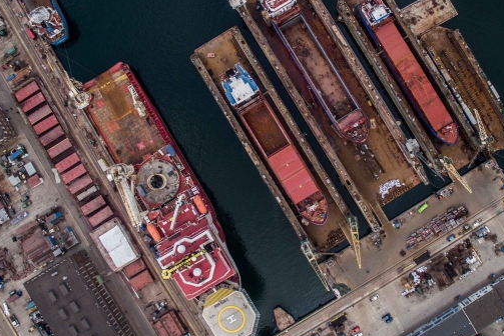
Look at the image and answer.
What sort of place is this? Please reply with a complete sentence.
What you see here is a port.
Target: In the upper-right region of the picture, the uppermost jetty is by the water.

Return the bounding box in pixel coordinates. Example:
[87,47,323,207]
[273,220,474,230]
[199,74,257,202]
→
[401,0,458,39]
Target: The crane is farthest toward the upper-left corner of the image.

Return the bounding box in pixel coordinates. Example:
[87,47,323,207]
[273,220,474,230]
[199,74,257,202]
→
[62,69,88,106]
